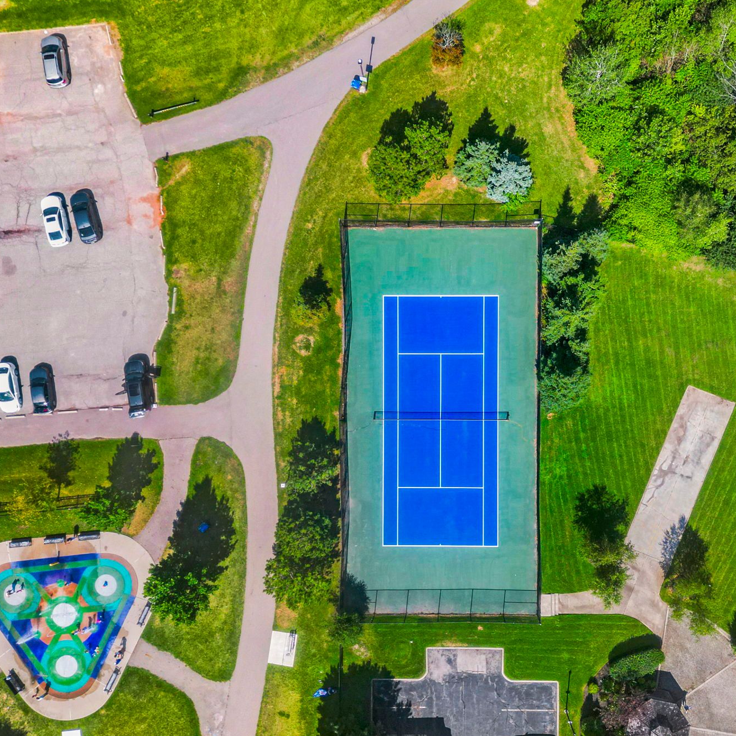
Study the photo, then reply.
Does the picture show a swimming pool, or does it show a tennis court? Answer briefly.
tennis court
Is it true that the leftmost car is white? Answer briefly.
Yes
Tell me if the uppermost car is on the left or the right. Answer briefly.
left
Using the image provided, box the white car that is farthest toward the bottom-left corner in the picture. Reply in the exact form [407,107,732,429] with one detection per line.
[0,362,28,413]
